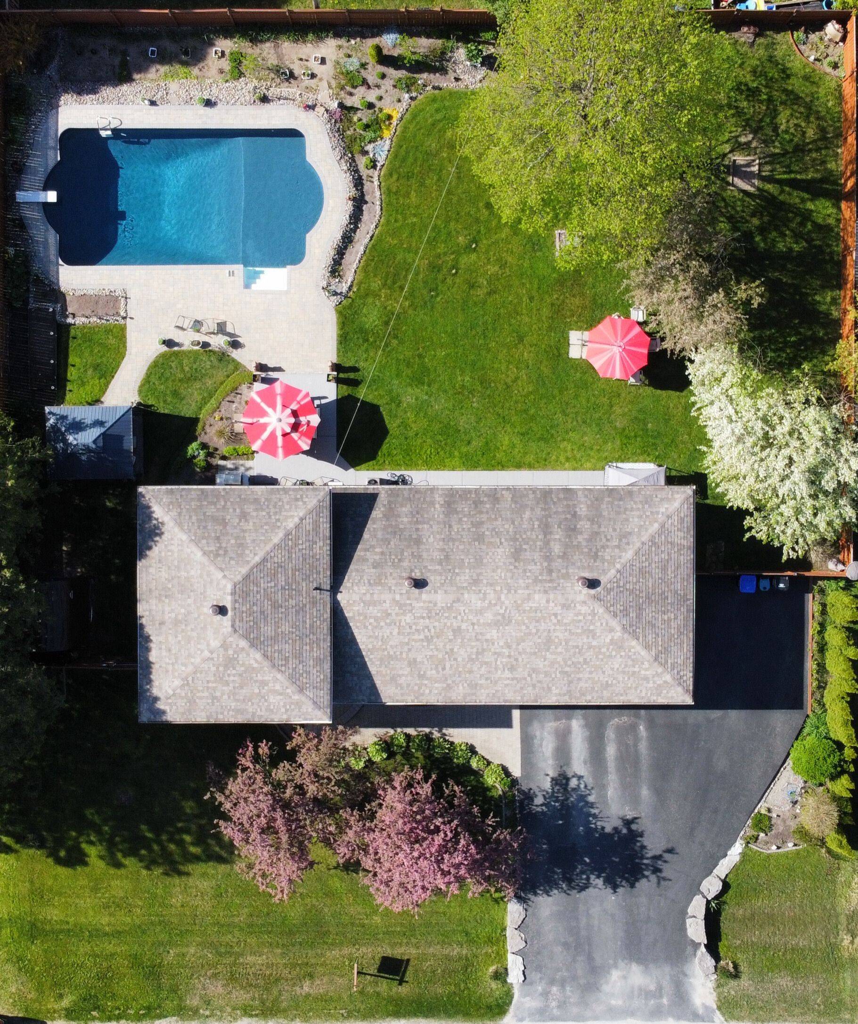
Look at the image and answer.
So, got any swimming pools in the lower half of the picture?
No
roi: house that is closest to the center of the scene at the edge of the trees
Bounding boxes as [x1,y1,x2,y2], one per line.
[134,484,697,725]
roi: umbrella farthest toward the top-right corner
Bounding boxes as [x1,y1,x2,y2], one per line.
[585,315,648,378]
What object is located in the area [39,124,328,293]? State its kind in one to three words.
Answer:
swimming pool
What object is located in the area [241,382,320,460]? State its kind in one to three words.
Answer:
umbrella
